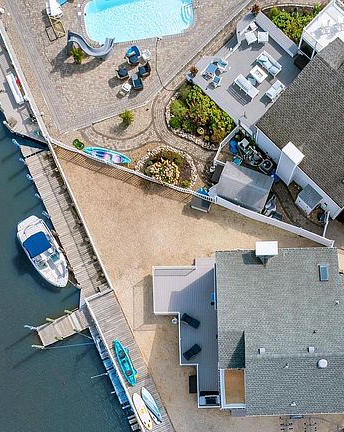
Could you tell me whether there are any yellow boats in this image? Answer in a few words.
No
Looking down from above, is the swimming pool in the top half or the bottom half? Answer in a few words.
top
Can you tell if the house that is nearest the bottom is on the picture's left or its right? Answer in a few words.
right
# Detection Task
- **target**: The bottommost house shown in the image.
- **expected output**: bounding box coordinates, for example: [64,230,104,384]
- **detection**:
[152,241,344,417]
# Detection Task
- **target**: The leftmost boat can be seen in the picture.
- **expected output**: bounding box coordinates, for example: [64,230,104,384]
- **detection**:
[16,210,68,289]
